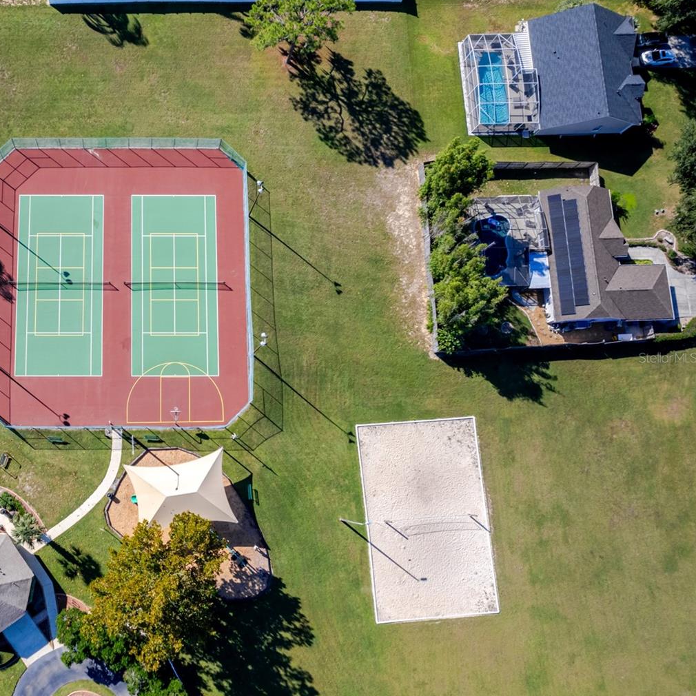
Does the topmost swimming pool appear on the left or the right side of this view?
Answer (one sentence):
The topmost swimming pool appears in the right half of the scene.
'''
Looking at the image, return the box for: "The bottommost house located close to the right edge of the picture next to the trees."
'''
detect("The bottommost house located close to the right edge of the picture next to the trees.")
[533,185,674,323]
